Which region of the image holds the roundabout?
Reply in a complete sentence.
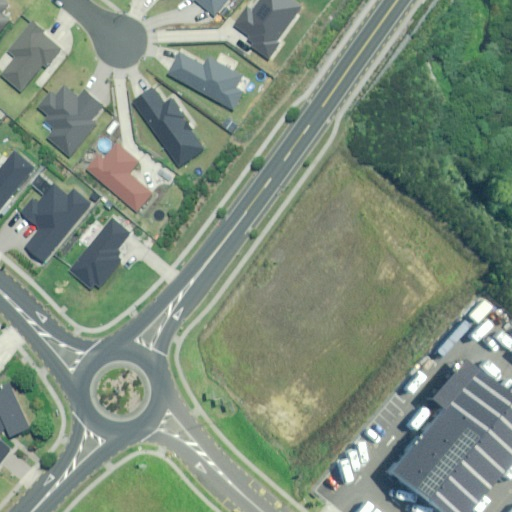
The roundabout is located in the bottom left region of the scene.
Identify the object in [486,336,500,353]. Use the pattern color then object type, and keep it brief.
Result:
white vehicle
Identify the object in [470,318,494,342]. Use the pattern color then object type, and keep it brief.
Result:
white truck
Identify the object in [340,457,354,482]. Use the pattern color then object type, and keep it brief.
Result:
white vehicle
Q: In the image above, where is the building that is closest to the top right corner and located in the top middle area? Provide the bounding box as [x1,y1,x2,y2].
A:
[233,0,303,62]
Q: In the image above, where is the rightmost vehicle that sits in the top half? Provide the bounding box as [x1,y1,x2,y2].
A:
[236,40,250,52]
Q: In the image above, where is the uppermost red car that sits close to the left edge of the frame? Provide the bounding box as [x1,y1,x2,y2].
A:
[23,224,38,238]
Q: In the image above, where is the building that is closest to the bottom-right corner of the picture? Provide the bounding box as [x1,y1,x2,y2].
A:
[386,358,512,512]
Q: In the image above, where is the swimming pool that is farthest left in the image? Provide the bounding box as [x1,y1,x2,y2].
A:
[97,138,112,154]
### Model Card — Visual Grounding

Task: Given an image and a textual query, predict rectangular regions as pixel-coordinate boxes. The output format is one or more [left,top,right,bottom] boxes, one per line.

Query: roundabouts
[72,342,170,440]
